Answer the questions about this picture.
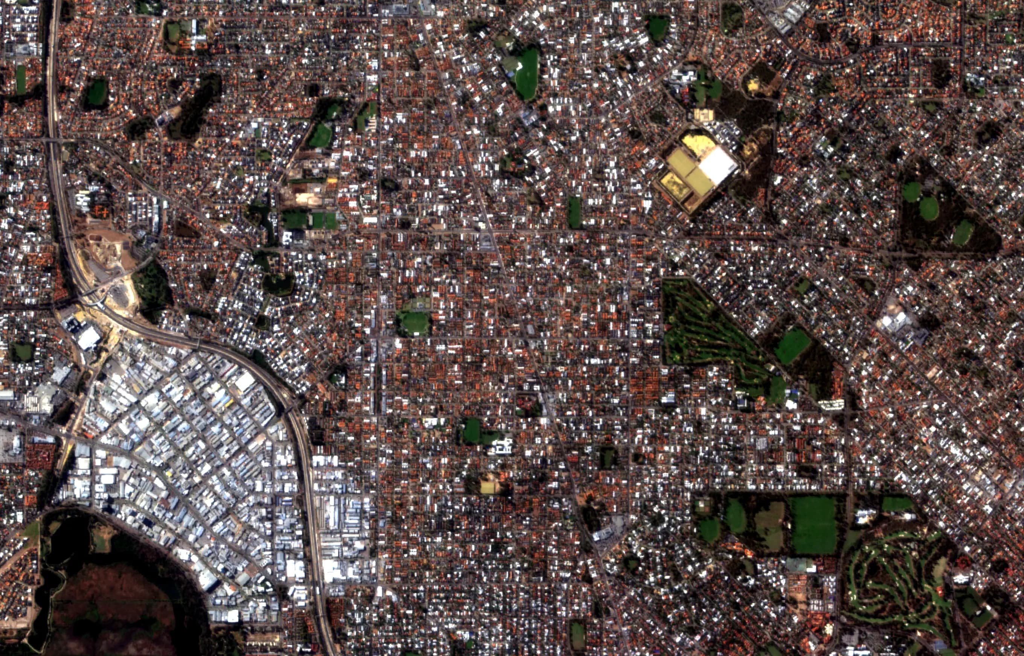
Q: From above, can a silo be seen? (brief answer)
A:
No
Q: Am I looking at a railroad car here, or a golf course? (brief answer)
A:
golf course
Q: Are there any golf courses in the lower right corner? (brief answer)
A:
Yes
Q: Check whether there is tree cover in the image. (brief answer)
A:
Yes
